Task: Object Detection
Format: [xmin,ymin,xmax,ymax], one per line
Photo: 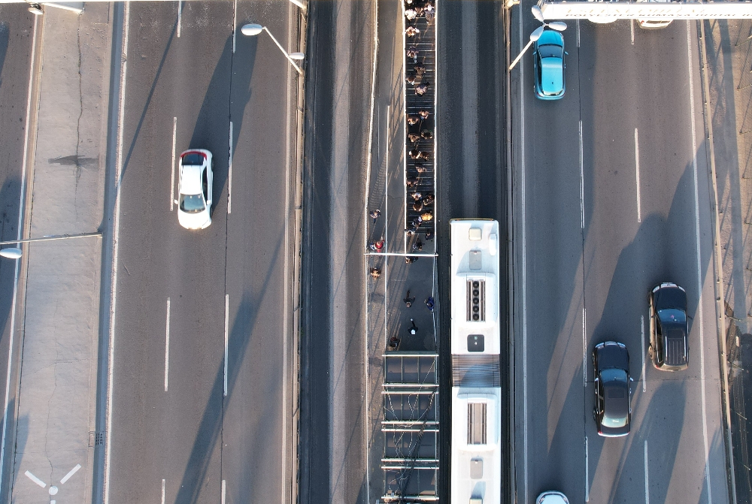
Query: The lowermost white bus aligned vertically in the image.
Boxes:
[446,220,501,504]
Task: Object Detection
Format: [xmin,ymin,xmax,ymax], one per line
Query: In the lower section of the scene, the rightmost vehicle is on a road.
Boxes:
[647,284,692,369]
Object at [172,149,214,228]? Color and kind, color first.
white car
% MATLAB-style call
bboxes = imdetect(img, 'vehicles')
[531,33,570,99]
[172,149,214,228]
[647,284,692,369]
[446,220,501,504]
[592,343,634,436]
[533,491,570,504]
[637,16,672,27]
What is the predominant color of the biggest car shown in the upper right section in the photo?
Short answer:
blue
